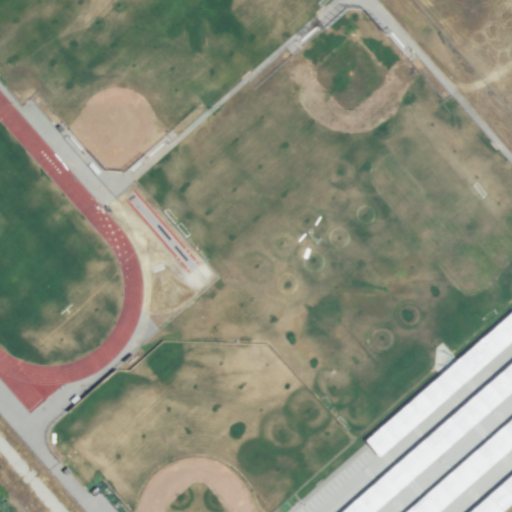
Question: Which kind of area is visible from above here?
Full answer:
It's a sports ground.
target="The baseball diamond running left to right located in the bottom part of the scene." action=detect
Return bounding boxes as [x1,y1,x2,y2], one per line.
[137,457,254,512]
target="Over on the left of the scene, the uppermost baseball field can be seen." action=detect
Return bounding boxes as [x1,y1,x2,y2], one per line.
[66,87,167,170]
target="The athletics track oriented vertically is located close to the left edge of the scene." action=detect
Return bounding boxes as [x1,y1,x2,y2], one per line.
[0,90,143,412]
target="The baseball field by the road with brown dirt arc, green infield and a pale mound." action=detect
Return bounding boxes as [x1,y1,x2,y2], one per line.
[287,34,416,133]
